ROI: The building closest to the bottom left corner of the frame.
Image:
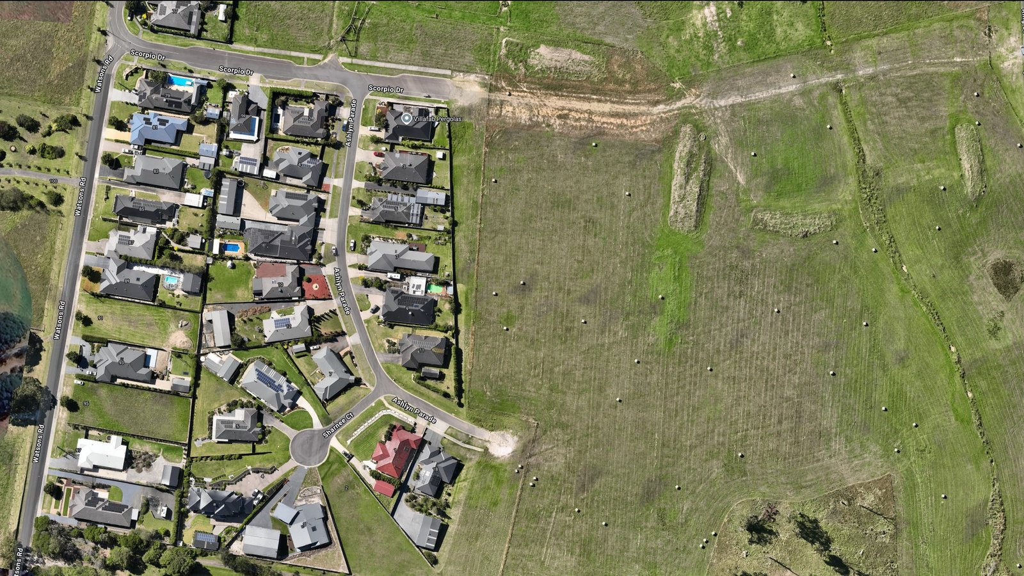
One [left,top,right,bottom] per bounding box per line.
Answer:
[66,487,139,527]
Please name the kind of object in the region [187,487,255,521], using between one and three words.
house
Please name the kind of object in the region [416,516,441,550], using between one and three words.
shed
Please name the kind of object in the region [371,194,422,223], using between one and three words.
house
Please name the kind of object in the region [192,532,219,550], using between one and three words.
shed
